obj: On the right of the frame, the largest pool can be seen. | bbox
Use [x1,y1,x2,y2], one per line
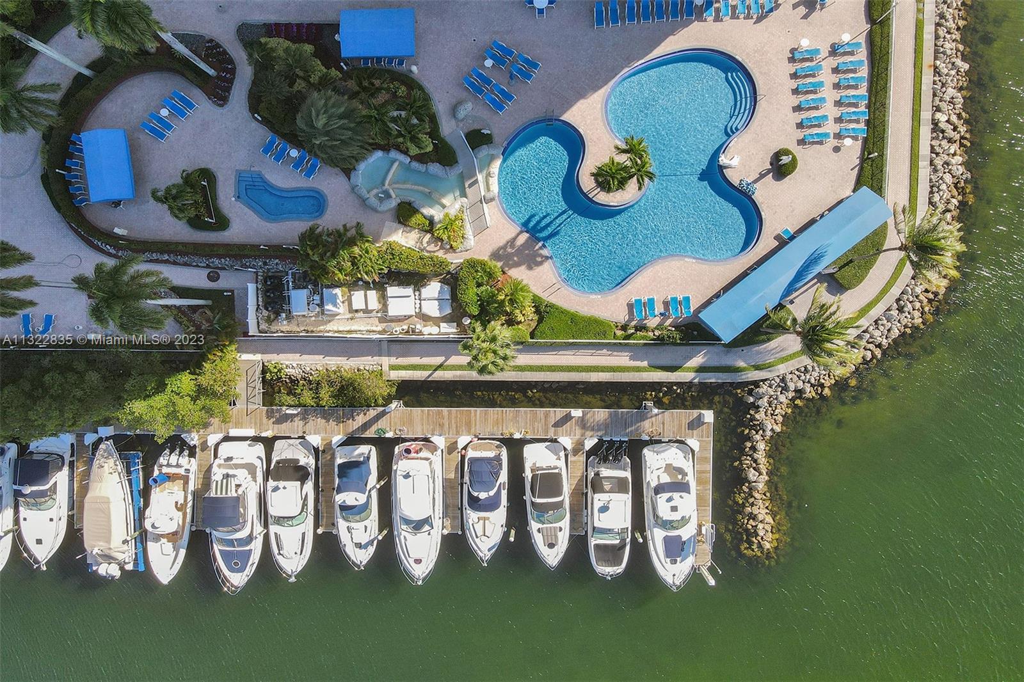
[495,44,770,299]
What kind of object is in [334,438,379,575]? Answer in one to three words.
boat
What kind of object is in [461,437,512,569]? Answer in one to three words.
boat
